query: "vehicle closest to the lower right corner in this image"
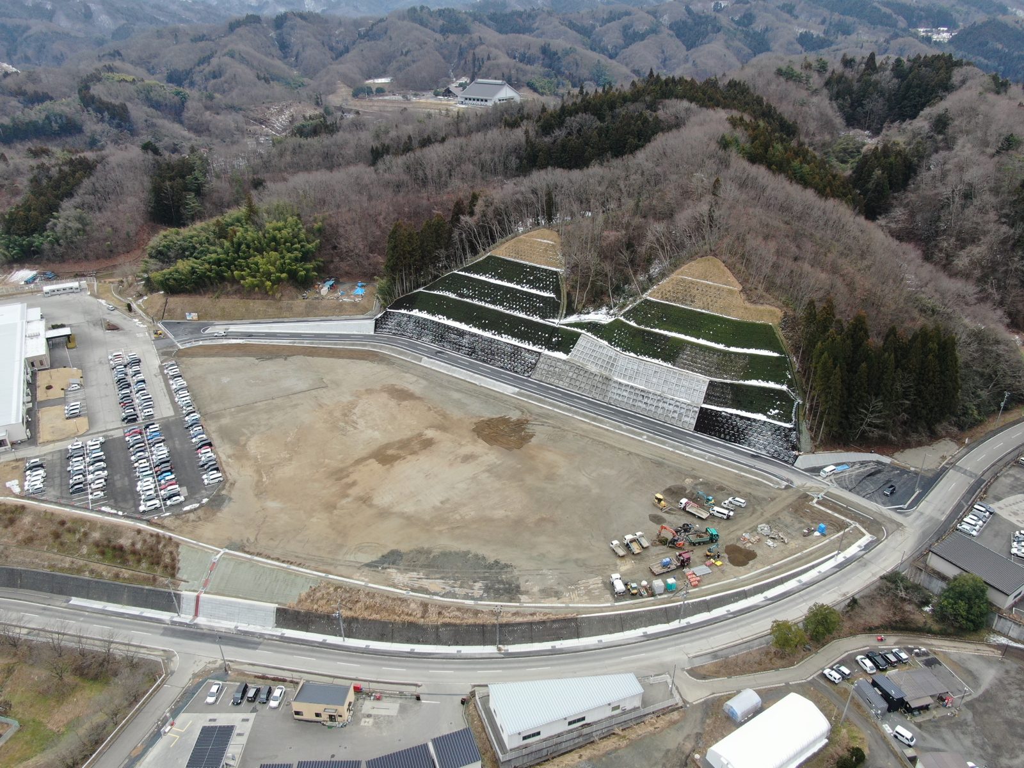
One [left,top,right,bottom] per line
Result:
[890,721,918,746]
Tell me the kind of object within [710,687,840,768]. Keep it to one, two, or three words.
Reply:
tent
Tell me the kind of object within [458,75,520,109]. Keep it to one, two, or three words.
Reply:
building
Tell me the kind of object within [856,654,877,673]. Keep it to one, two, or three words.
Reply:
car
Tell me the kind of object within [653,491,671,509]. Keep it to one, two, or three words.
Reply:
work vehicle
